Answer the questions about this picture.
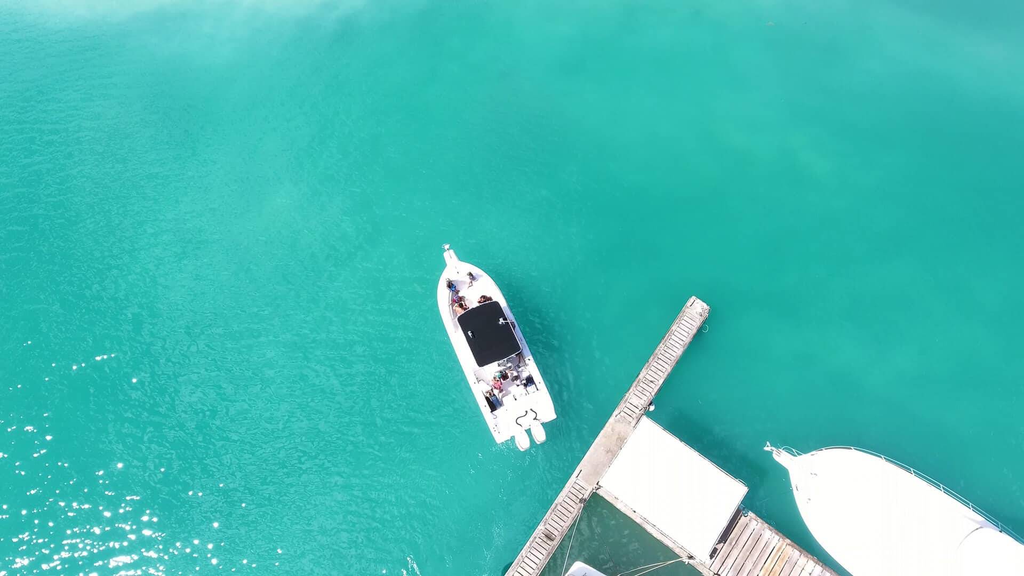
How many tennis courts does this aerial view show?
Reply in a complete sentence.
There are no tennis courts in this view.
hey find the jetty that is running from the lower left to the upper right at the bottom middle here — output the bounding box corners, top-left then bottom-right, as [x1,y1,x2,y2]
[505,297,709,576]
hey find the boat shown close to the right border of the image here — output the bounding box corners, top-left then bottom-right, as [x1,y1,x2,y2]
[765,441,1024,576]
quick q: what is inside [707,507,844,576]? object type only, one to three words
pier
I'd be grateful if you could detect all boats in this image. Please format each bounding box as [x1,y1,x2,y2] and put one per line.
[561,560,595,576]
[436,244,556,451]
[765,441,1024,576]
